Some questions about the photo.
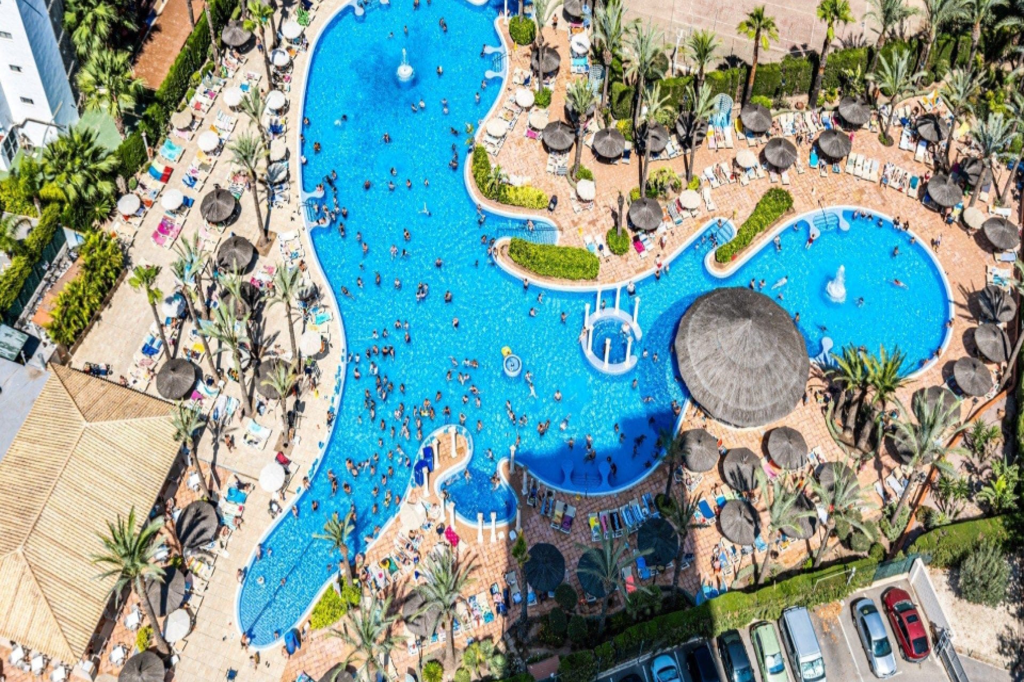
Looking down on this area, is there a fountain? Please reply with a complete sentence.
Yes, there's a fountain down there.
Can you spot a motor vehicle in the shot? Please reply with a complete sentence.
Yes, the image includes a motor vehicle.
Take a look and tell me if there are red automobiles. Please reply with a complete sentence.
Yes, a red automobile is visible in the scene.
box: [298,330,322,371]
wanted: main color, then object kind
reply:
white umbrella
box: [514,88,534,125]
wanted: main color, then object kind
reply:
white umbrella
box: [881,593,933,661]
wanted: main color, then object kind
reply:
red car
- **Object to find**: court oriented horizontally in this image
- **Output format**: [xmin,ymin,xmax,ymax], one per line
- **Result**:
[613,0,1003,78]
